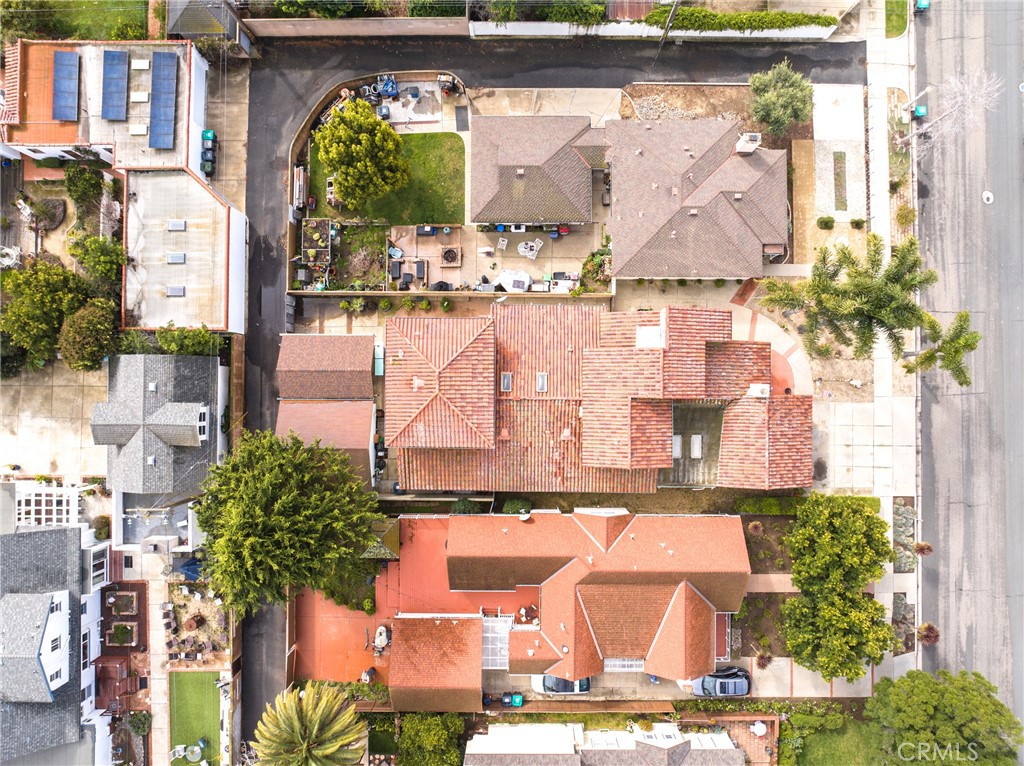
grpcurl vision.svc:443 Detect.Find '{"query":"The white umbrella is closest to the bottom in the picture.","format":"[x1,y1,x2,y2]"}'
[752,719,765,735]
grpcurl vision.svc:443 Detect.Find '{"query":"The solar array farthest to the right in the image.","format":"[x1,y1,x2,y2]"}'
[149,51,177,149]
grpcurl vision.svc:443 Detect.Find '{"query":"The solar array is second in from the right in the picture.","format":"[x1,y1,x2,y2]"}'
[102,49,128,121]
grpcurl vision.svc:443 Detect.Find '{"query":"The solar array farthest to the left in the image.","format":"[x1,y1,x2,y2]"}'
[53,50,78,121]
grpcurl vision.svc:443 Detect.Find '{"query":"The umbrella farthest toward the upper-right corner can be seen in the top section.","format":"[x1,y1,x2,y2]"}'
[497,263,527,297]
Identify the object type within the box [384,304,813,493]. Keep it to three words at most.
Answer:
house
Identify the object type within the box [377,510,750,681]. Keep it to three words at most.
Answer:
house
